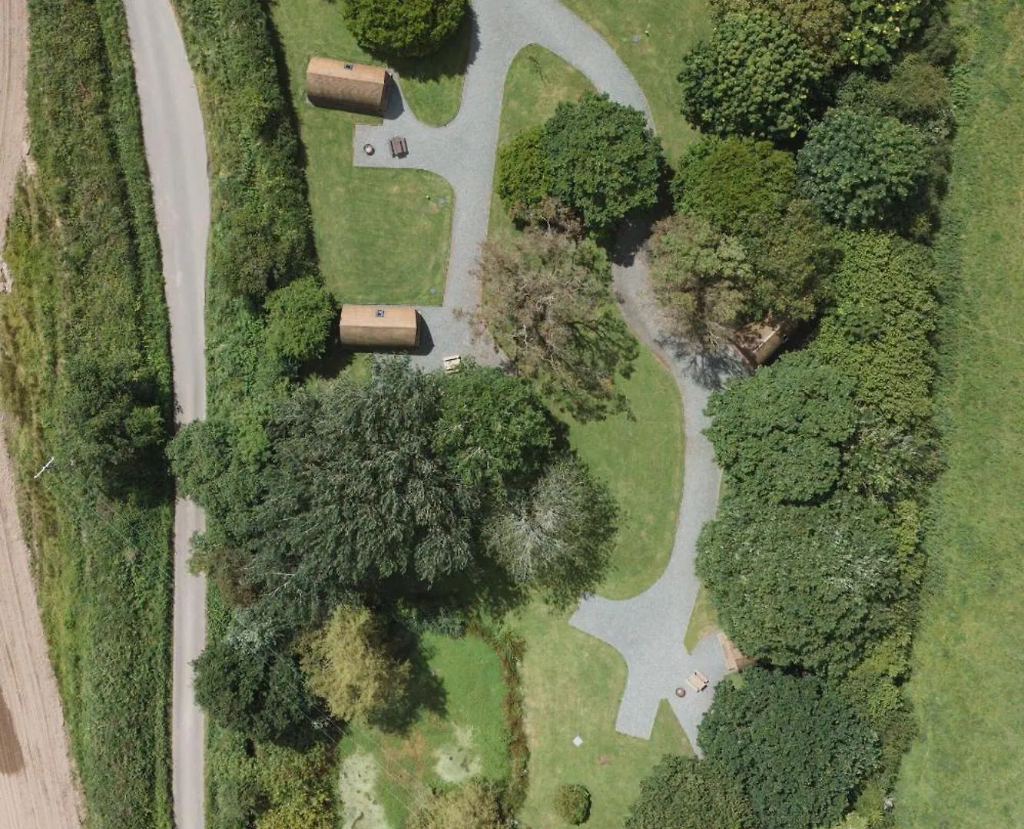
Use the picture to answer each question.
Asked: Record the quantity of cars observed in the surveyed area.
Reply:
0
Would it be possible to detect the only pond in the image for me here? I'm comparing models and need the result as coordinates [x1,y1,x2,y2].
[333,635,512,829]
